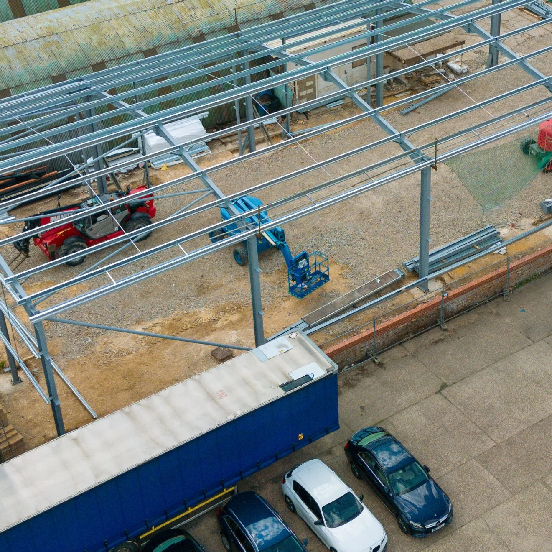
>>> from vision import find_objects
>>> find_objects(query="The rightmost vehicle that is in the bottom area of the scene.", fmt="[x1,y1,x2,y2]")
[341,425,457,540]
